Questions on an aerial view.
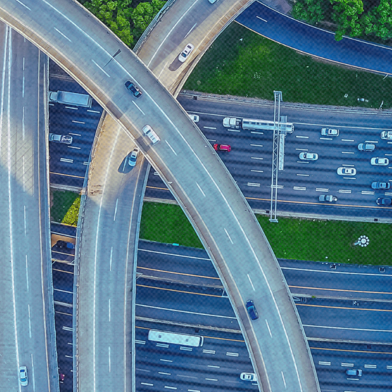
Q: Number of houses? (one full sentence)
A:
I count no houses.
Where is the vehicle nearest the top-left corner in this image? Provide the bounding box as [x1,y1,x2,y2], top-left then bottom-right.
[51,90,94,108]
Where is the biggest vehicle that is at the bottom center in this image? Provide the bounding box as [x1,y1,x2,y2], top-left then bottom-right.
[148,328,205,348]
